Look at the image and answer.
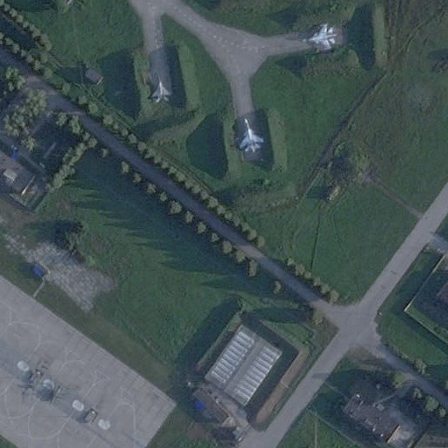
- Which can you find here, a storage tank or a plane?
plane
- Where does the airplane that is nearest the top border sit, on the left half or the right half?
right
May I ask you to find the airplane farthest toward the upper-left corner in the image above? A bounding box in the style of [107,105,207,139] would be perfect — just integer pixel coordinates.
[154,81,170,105]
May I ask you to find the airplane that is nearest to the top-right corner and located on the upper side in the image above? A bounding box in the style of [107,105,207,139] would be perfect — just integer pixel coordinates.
[302,23,338,47]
